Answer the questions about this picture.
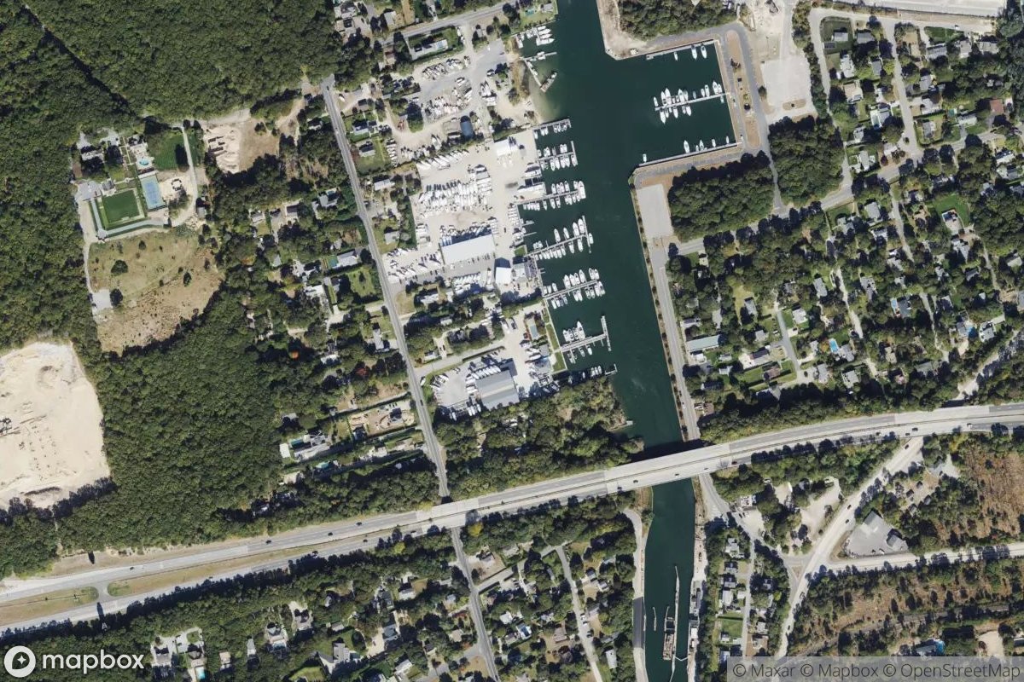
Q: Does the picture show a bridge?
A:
Yes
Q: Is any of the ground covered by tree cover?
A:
Yes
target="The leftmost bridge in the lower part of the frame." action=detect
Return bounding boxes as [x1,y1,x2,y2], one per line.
[417,501,466,536]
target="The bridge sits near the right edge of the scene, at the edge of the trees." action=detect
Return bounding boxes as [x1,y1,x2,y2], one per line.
[896,404,990,437]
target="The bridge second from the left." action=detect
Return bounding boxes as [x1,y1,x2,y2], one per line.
[605,441,729,493]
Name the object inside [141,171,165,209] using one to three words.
tennis court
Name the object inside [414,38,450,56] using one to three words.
building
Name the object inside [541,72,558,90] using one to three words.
ship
